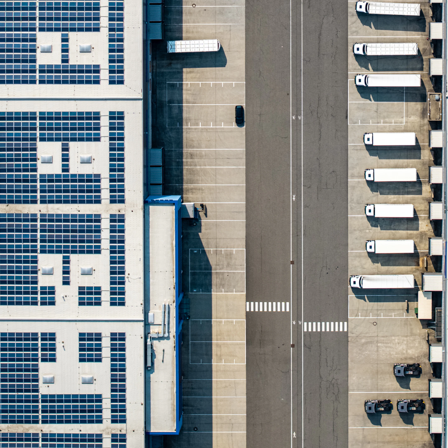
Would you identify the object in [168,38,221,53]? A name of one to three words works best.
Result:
trailer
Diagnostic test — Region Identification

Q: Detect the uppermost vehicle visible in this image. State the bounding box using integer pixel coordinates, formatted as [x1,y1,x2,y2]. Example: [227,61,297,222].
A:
[355,0,420,16]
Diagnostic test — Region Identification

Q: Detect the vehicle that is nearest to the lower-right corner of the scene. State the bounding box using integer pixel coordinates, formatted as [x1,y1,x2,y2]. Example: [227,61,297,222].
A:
[397,397,423,413]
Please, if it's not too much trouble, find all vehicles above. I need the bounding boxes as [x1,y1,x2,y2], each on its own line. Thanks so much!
[397,397,423,413]
[363,168,417,180]
[364,239,414,253]
[234,106,244,124]
[354,73,421,87]
[394,362,419,377]
[355,0,420,16]
[348,274,414,288]
[365,398,391,414]
[362,131,416,145]
[364,202,414,217]
[353,41,418,55]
